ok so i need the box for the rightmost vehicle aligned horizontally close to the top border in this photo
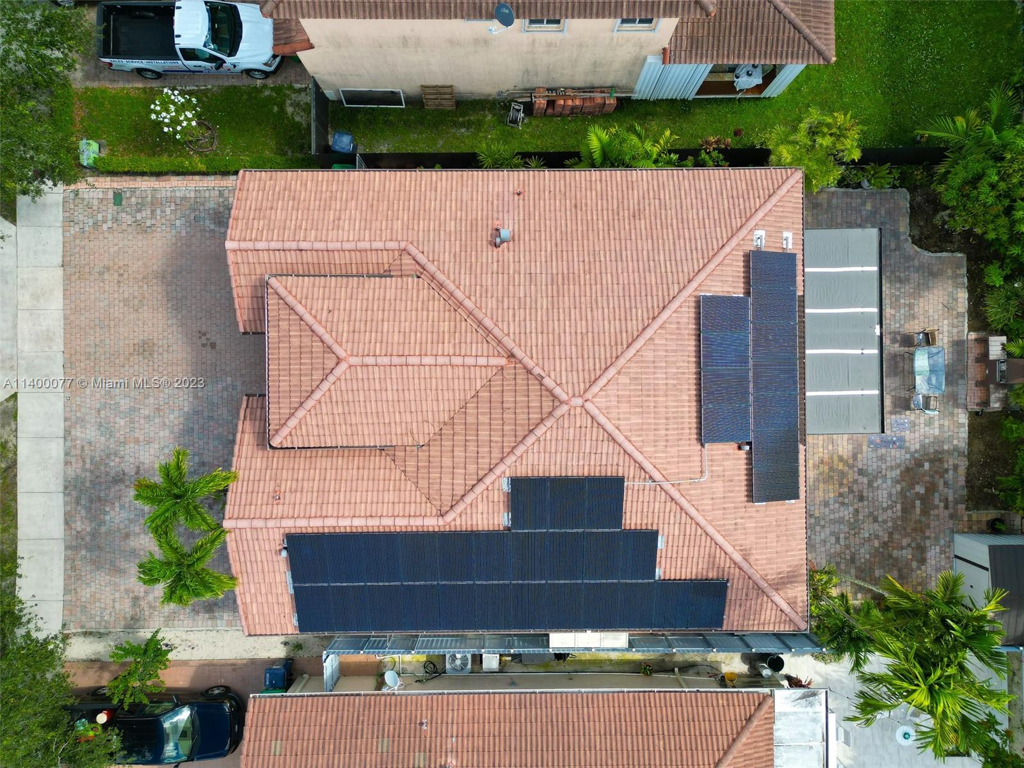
[97,0,287,80]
